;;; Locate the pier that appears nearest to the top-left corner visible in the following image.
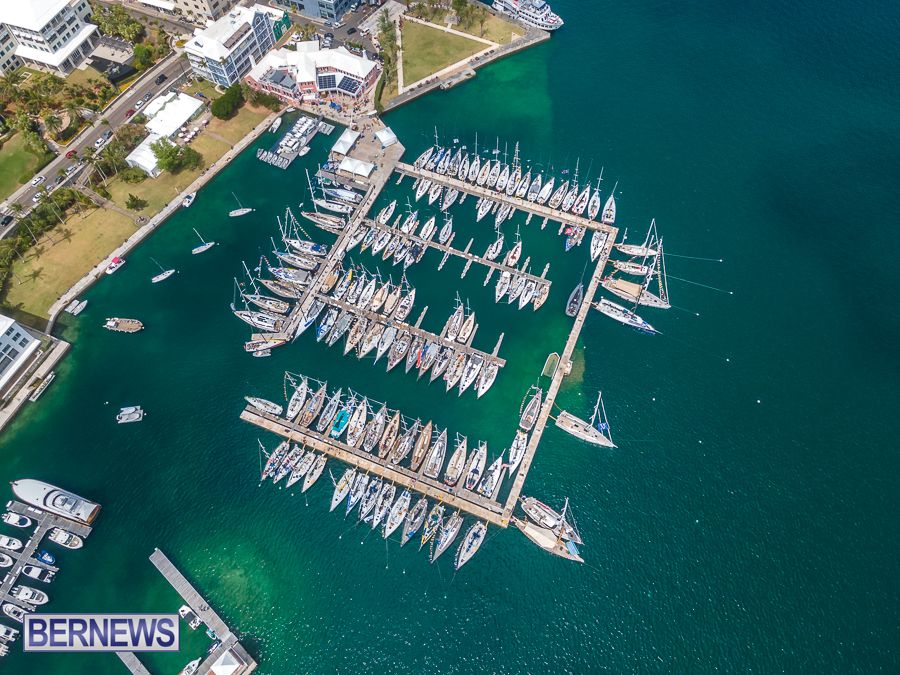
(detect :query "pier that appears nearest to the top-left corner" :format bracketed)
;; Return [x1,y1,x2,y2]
[254,115,335,169]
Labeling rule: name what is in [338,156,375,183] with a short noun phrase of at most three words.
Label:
tent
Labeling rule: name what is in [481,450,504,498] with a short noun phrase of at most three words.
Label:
boat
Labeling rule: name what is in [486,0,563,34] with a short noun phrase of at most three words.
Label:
ship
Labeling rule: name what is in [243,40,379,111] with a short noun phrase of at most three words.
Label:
building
